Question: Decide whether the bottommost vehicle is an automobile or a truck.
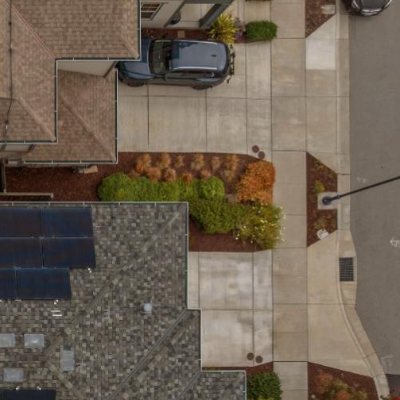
automobile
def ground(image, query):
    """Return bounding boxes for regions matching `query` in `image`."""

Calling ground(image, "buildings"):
[0,201,247,400]
[0,0,228,166]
